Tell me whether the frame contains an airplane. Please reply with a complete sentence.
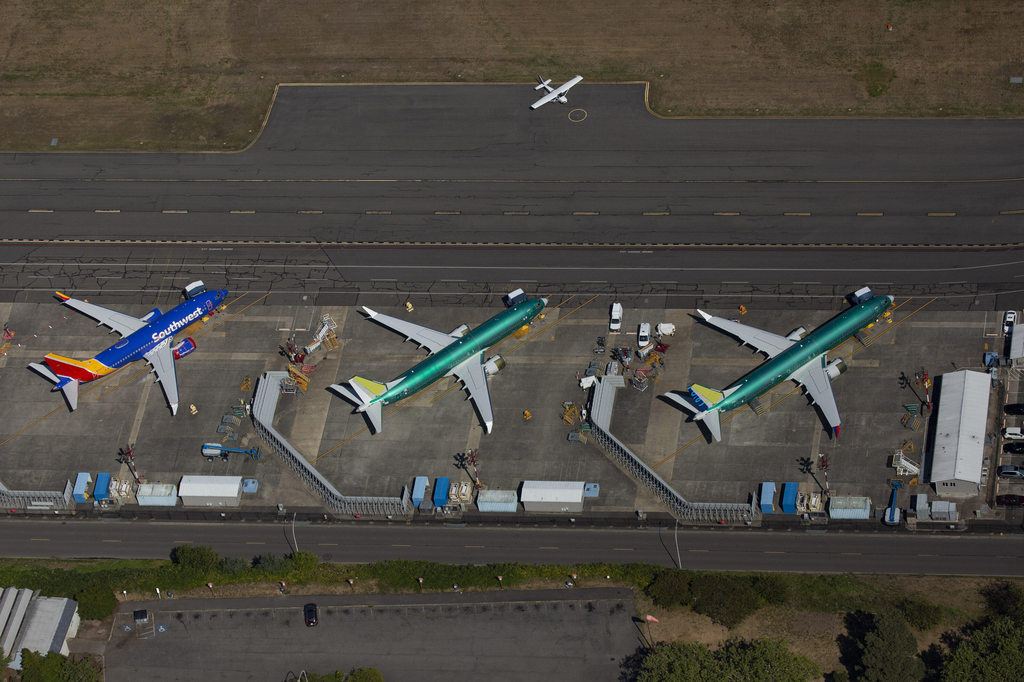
Yes, an airplane appears in the view.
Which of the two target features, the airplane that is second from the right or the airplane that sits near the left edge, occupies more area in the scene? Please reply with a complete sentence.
The airplane that sits near the left edge is larger than the airplane that is second from the right.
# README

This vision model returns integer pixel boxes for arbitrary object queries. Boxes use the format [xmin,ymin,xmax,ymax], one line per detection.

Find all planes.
[532,75,585,110]
[28,288,229,418]
[664,295,895,442]
[329,298,549,437]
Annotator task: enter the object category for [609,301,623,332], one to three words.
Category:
vehicle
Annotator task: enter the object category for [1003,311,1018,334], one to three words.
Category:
car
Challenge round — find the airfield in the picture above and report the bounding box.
[0,80,1024,529]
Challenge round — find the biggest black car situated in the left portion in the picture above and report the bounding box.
[303,604,318,629]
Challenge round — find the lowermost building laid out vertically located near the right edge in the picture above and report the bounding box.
[925,369,992,496]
